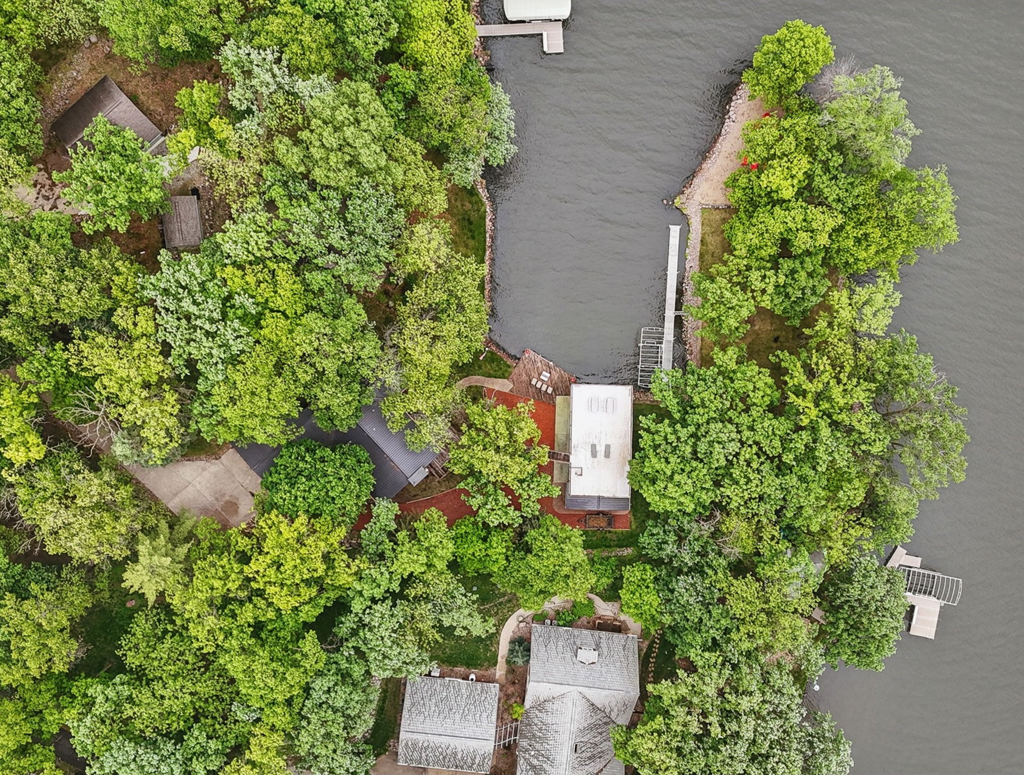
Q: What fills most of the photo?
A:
trees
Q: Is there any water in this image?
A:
Yes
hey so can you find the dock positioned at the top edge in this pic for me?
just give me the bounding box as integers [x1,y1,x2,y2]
[483,22,564,54]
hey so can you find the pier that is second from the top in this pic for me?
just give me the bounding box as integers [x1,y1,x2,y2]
[662,225,683,374]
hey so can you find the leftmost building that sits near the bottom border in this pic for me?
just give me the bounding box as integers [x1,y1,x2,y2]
[397,674,500,775]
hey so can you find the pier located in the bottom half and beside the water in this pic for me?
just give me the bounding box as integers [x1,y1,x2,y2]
[883,550,941,641]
